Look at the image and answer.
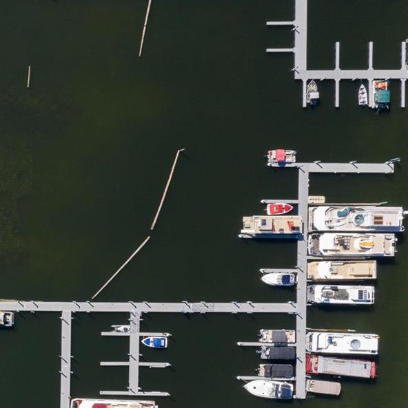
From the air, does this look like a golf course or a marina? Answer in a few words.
marina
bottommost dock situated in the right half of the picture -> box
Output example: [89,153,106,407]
[236,312,355,399]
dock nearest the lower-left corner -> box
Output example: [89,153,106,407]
[58,311,75,408]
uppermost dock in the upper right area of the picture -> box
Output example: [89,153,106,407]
[265,0,408,108]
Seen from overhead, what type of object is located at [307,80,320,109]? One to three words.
boat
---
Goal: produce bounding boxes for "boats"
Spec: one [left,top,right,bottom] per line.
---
[109,325,131,332]
[265,149,297,164]
[0,311,14,326]
[252,364,293,377]
[300,354,375,378]
[357,84,367,109]
[263,202,293,214]
[303,261,378,280]
[253,347,295,360]
[242,380,294,398]
[371,82,392,113]
[303,233,395,256]
[141,337,167,348]
[307,80,320,109]
[303,379,341,395]
[261,272,297,285]
[68,397,155,408]
[255,329,294,342]
[301,330,380,353]
[237,215,303,235]
[304,207,402,231]
[303,284,376,304]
